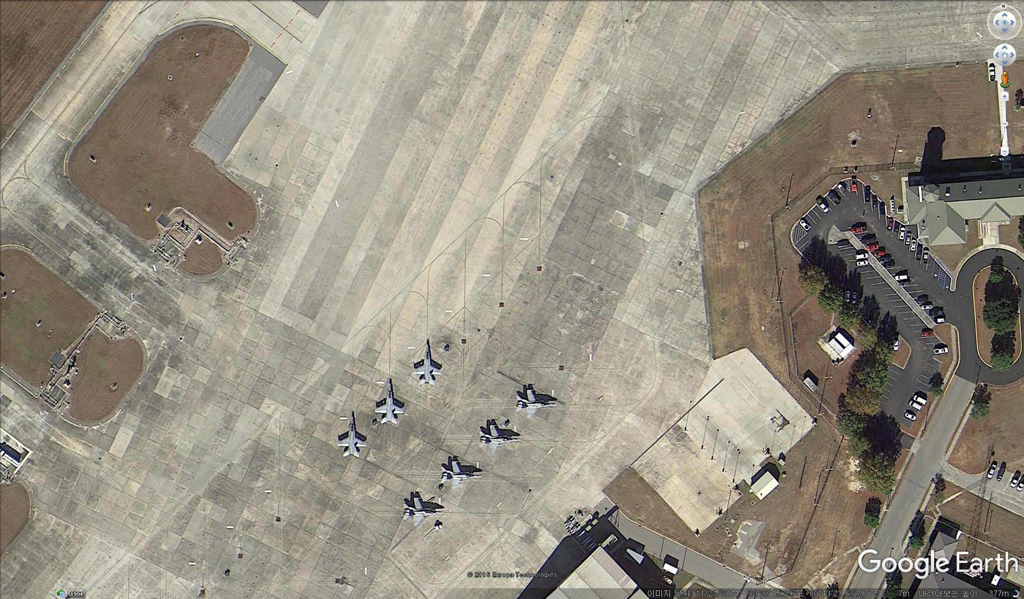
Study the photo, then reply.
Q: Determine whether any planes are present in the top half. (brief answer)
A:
No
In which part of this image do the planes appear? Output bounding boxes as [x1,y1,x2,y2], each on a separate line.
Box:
[479,426,520,455]
[338,417,366,457]
[404,499,443,527]
[516,391,557,419]
[413,344,441,384]
[376,383,404,424]
[441,463,481,491]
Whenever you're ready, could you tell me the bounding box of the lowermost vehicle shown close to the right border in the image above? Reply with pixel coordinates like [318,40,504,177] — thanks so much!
[990,573,1002,588]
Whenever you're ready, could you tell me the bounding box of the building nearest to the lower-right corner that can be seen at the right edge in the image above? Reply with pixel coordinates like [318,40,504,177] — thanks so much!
[918,532,1001,599]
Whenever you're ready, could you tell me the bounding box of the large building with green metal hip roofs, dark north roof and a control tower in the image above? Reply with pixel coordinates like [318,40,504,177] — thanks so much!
[904,155,1024,245]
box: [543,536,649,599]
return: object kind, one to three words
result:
hangar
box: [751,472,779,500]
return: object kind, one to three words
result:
building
